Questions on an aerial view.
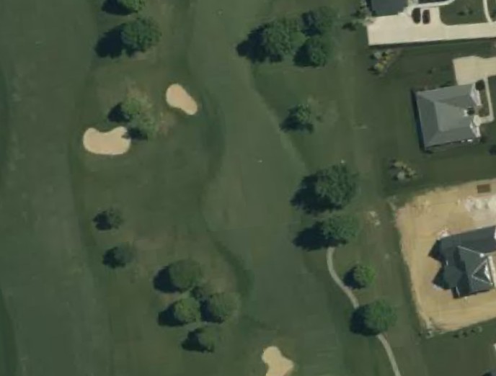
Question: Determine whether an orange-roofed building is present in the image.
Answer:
No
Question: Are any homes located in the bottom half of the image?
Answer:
Yes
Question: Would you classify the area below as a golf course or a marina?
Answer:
golf course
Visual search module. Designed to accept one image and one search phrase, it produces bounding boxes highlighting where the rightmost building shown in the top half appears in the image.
[417,83,482,149]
